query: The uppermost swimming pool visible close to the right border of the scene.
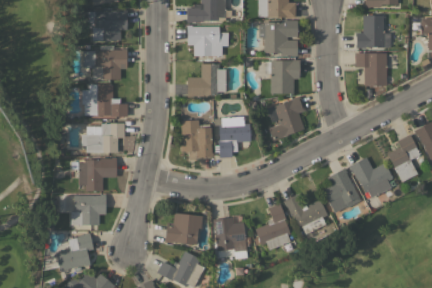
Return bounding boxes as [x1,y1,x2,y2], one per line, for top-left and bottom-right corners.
[411,41,424,62]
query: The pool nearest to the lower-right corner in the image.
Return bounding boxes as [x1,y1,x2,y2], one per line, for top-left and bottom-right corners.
[341,206,362,220]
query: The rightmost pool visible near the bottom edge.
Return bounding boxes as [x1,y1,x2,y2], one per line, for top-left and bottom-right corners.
[218,262,232,286]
